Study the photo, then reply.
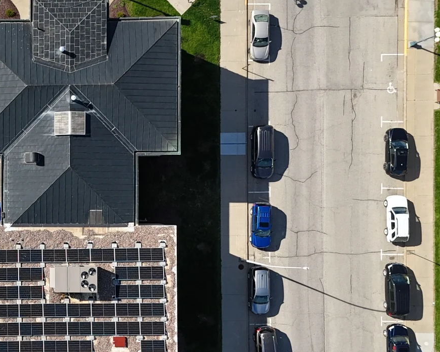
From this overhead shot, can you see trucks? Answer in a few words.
No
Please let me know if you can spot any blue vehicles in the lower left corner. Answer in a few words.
No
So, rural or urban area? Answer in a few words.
urban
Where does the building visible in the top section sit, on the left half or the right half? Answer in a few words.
left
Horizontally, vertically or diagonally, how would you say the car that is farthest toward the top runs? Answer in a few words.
vertically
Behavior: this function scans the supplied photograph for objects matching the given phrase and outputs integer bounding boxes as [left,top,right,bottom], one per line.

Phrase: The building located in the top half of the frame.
[0,0,183,225]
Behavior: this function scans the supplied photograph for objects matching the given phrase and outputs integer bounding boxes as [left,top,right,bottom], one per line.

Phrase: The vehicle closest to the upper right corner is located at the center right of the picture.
[383,129,410,177]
